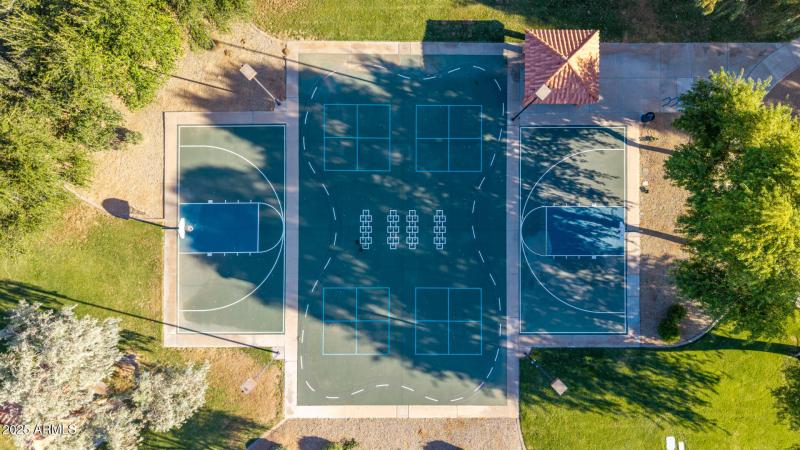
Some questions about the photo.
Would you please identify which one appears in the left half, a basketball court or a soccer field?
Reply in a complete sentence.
The one visible in the left half is a basketball court.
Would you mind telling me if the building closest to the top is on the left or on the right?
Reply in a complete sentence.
The building closest to the top appears in the right half of the scene.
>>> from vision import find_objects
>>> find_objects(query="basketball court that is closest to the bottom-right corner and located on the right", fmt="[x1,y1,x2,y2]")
[520,126,626,334]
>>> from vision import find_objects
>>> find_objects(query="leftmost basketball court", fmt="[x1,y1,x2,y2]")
[177,124,285,334]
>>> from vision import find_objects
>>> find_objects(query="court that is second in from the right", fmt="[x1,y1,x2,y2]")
[298,53,507,406]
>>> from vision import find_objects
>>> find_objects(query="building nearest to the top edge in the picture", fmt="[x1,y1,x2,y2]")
[523,27,602,105]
